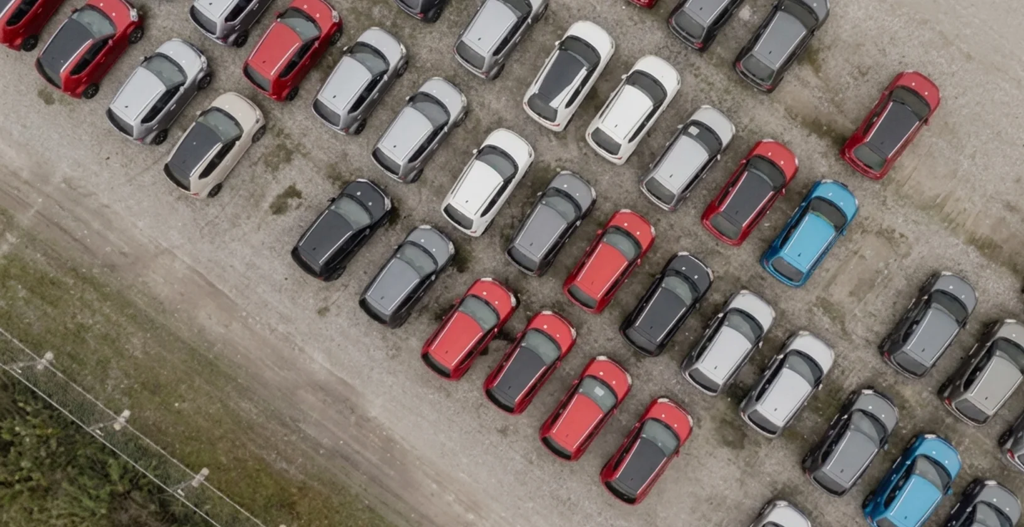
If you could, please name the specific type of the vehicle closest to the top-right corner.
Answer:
automobile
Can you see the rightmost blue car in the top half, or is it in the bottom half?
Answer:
bottom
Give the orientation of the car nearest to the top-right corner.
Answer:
at an angle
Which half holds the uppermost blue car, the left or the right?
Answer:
right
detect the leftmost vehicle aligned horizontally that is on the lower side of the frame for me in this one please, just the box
[744,496,811,527]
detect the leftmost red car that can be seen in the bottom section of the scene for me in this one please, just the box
[419,274,516,381]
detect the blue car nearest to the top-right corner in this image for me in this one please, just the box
[755,178,856,287]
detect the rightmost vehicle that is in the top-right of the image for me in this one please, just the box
[834,70,938,179]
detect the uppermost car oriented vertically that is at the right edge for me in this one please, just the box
[996,410,1024,474]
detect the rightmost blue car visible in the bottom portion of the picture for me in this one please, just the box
[856,430,960,527]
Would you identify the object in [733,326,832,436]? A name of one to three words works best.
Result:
car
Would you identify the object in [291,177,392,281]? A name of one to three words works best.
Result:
car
